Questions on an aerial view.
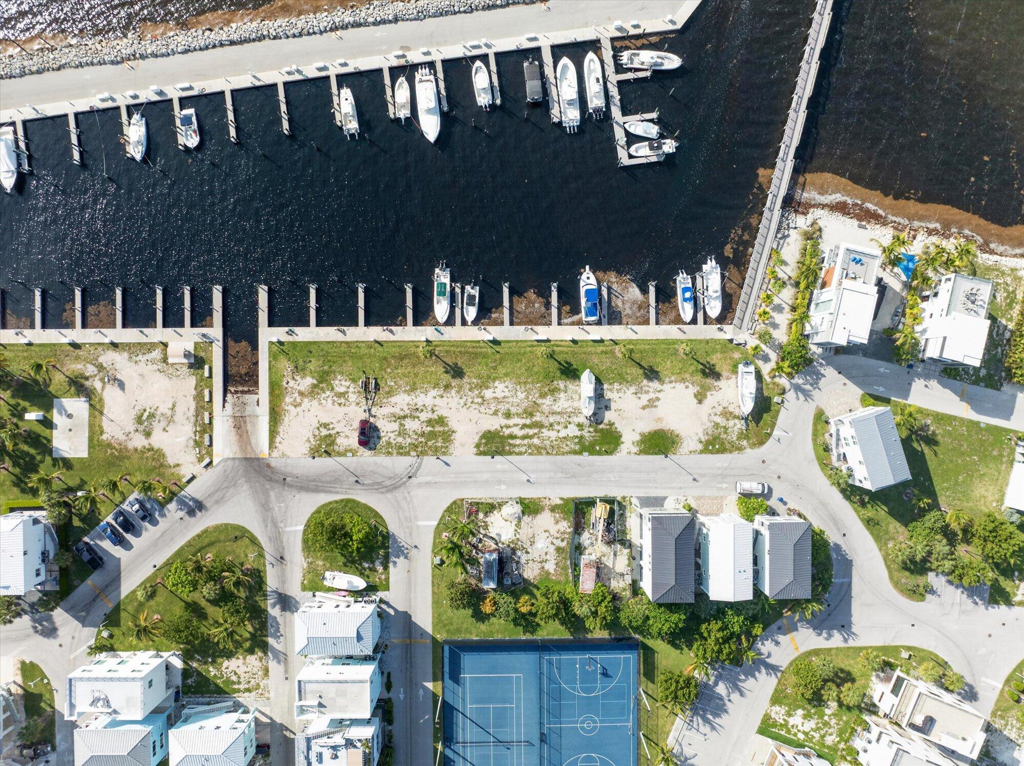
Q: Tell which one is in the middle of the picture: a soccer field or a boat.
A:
boat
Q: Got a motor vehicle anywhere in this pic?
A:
Yes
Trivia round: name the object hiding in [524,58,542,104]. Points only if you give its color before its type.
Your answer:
gray boat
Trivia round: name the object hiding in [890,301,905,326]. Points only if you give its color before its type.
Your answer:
gray boat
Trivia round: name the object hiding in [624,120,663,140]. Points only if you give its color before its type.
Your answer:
white boat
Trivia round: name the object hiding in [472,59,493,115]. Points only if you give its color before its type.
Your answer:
white boat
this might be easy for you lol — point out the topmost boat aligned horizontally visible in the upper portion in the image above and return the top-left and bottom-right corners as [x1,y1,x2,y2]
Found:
[615,46,682,71]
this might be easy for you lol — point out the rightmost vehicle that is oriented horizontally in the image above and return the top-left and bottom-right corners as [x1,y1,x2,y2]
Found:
[736,482,769,497]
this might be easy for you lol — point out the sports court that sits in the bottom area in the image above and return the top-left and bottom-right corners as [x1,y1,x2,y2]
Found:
[442,640,639,766]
